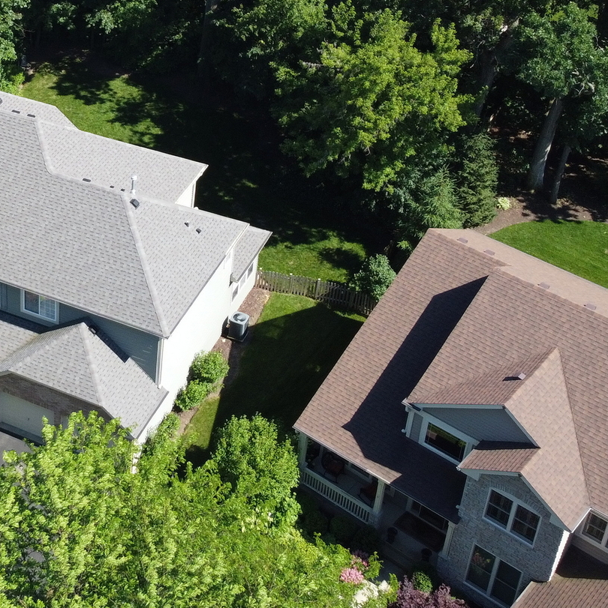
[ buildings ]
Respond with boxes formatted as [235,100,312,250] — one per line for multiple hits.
[0,89,276,461]
[292,227,608,608]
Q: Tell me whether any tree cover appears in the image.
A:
Yes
